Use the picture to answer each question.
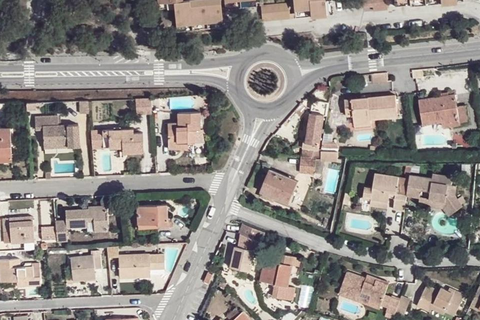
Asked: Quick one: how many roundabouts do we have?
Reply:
1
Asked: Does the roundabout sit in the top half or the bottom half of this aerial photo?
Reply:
top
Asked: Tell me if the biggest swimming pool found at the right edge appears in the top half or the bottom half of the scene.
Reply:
bottom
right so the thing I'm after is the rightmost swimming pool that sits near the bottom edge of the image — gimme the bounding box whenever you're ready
[340,299,364,314]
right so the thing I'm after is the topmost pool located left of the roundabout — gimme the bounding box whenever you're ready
[169,96,194,110]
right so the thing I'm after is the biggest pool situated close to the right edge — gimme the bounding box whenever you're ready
[432,212,456,236]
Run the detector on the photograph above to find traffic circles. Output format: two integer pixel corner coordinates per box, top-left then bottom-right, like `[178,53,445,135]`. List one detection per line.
[228,44,302,118]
